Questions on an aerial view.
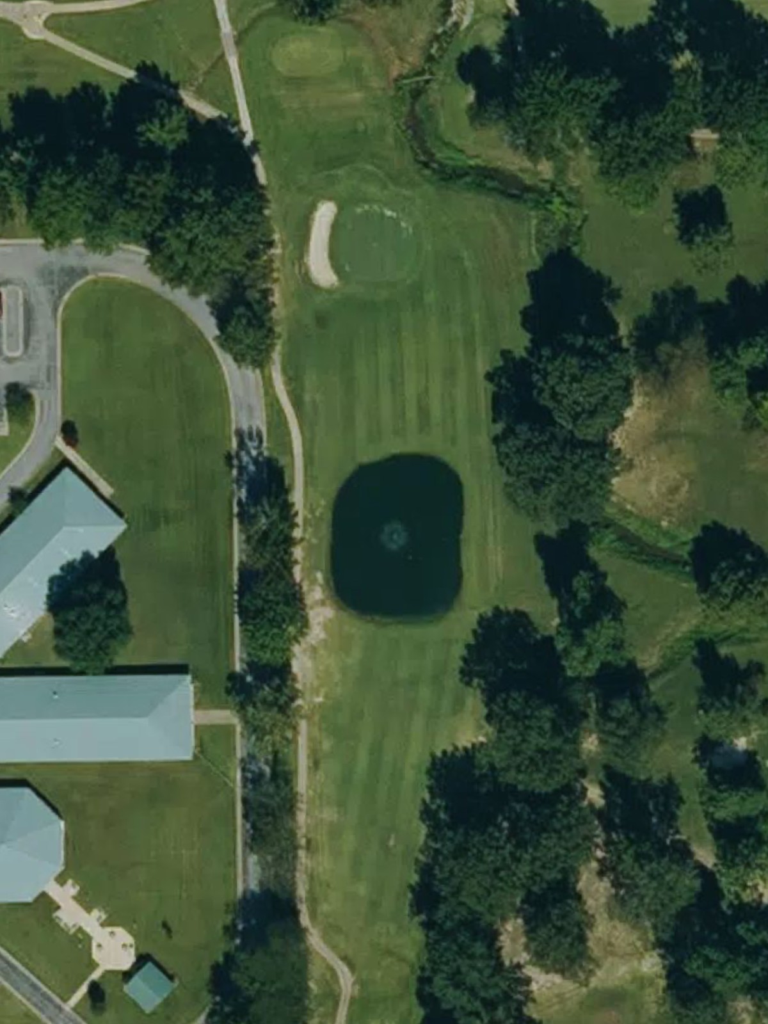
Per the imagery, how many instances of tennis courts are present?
none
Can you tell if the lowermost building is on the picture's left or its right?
left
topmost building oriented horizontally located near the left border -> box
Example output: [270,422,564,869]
[0,674,193,760]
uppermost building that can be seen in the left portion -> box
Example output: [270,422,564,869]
[0,464,127,650]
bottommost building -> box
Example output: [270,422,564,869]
[124,961,176,1013]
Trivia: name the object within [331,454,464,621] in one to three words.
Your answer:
pond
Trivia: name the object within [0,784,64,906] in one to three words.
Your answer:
building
